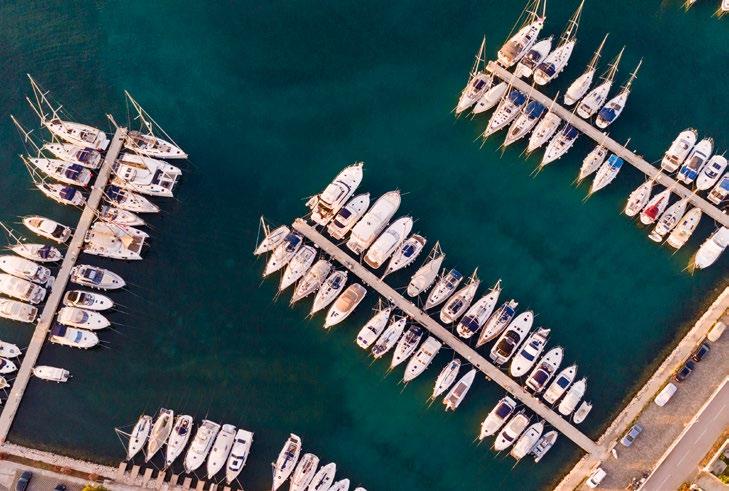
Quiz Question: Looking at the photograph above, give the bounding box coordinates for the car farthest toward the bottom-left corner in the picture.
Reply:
[12,468,34,491]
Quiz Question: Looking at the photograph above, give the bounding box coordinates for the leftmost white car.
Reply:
[586,465,607,490]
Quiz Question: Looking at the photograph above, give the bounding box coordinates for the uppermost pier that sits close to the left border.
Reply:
[0,127,129,443]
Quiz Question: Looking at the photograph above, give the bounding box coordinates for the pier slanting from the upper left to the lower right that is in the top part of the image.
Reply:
[485,62,729,226]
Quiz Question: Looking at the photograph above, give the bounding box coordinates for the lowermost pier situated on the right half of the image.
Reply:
[292,218,599,455]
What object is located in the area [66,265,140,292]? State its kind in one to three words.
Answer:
boat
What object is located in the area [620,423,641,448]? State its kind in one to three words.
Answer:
car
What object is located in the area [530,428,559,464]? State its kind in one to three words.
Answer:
boat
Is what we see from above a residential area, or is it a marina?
marina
